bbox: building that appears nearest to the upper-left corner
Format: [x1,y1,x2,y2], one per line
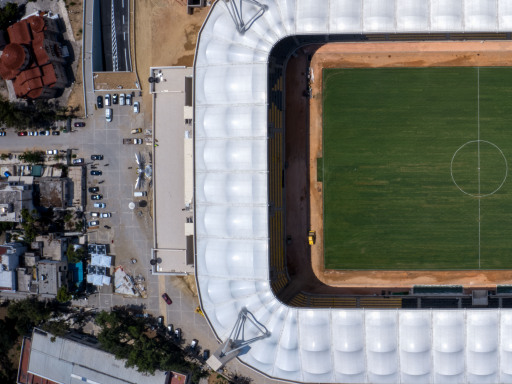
[0,12,82,113]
